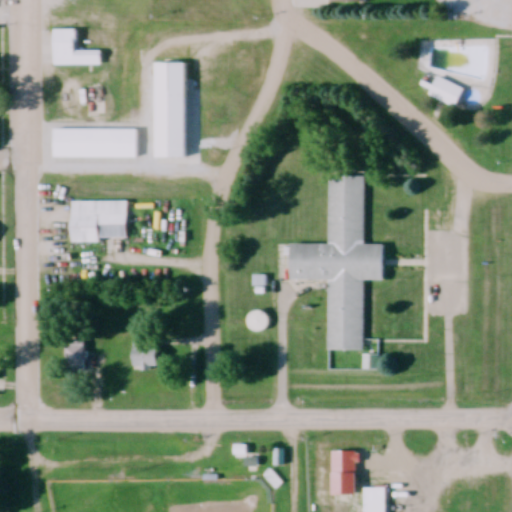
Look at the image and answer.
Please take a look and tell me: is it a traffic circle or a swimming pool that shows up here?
swimming pool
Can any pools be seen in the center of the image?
No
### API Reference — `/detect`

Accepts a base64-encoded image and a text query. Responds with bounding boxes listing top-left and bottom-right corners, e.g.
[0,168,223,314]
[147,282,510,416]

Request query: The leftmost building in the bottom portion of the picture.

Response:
[64,342,84,370]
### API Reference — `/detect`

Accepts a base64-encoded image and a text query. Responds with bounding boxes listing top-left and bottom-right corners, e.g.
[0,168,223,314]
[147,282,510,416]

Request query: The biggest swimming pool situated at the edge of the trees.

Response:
[418,38,500,106]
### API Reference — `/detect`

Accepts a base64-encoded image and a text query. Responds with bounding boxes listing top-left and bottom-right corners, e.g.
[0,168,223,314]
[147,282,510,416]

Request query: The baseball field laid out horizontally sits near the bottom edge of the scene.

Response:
[47,478,270,512]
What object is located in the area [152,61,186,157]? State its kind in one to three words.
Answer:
barn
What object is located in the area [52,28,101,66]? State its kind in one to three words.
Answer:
building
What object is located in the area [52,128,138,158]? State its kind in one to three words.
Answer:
barn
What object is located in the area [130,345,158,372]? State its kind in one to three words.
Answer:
house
